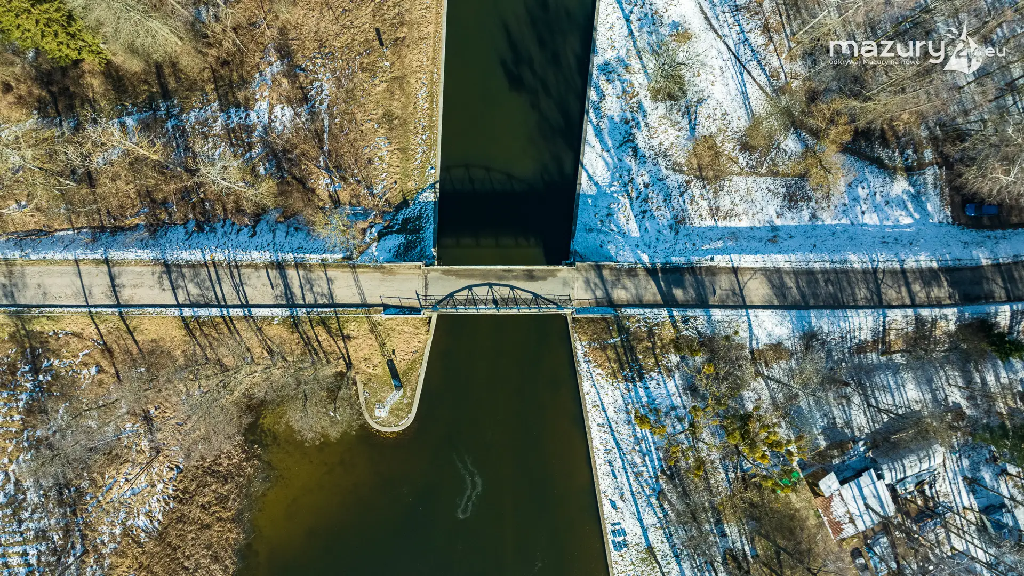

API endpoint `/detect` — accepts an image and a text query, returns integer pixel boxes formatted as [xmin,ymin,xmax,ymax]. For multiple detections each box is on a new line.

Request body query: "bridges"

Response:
[381,260,615,315]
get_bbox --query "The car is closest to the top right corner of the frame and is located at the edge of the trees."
[968,201,1002,217]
